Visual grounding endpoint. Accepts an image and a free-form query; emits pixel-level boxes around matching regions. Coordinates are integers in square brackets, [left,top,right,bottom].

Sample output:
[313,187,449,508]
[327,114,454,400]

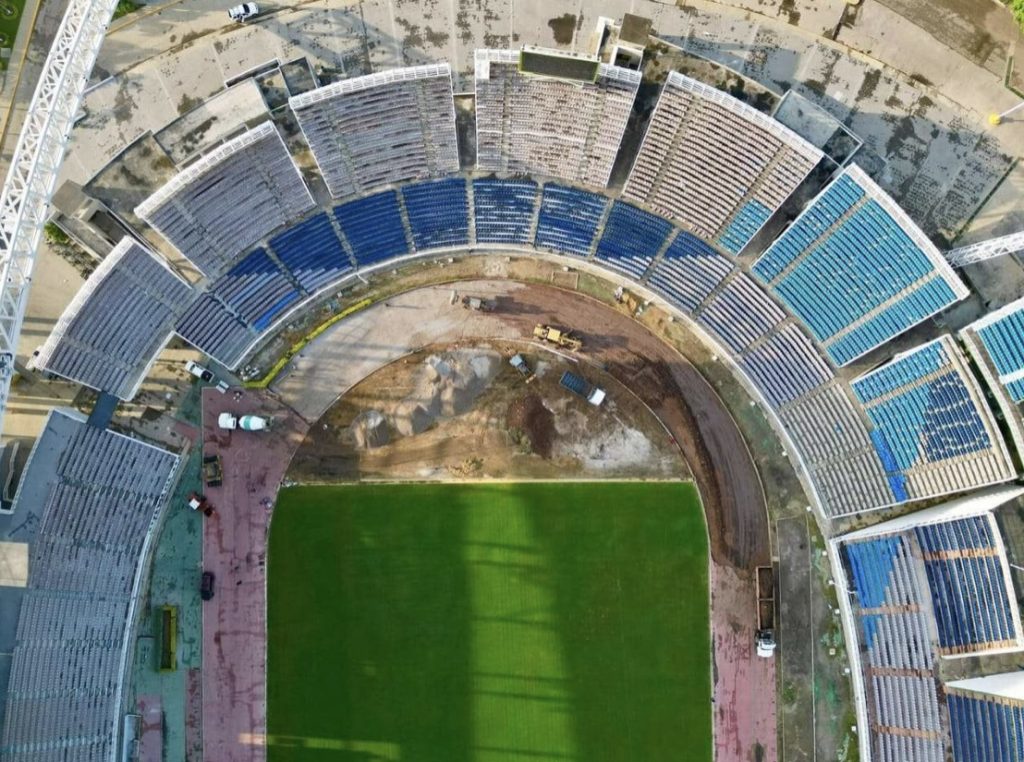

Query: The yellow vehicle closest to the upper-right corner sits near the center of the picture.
[533,323,588,355]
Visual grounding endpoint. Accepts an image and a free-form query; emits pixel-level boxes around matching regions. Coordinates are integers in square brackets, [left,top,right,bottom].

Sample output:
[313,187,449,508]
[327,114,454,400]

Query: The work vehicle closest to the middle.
[510,354,534,382]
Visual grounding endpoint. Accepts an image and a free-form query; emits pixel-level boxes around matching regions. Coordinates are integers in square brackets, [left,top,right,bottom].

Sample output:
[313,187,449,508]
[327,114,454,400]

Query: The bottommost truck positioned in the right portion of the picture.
[755,567,778,661]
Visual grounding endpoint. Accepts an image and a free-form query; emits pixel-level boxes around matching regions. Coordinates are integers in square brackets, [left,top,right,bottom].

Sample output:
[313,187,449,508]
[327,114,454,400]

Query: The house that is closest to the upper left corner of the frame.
[55,180,142,260]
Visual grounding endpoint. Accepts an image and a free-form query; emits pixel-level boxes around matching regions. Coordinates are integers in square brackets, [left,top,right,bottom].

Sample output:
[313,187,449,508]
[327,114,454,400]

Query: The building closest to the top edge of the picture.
[590,13,652,71]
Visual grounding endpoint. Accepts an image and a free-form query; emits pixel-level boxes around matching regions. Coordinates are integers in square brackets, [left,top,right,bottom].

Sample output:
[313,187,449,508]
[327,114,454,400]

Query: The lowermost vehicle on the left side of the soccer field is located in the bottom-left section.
[198,573,213,601]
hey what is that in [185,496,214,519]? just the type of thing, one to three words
work vehicle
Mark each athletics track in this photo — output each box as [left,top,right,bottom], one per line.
[203,278,779,762]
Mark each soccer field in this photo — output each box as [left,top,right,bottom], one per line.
[263,480,716,762]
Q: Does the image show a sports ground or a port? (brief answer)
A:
sports ground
